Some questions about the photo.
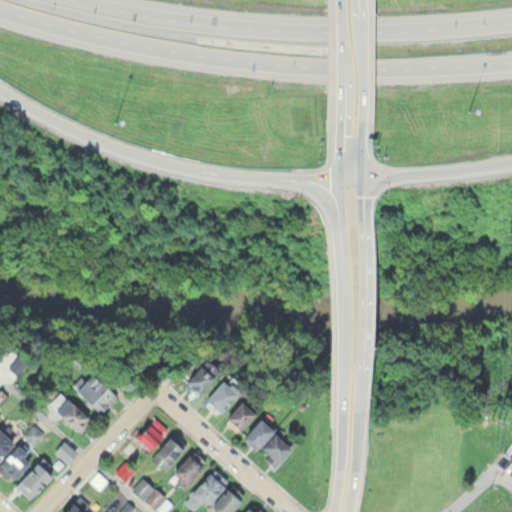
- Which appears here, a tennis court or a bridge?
bridge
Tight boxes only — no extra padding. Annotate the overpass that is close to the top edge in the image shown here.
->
[327,0,376,100]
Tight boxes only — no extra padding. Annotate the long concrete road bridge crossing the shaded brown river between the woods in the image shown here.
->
[328,244,377,392]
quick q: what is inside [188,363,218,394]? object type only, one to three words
house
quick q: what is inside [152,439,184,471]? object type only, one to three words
house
